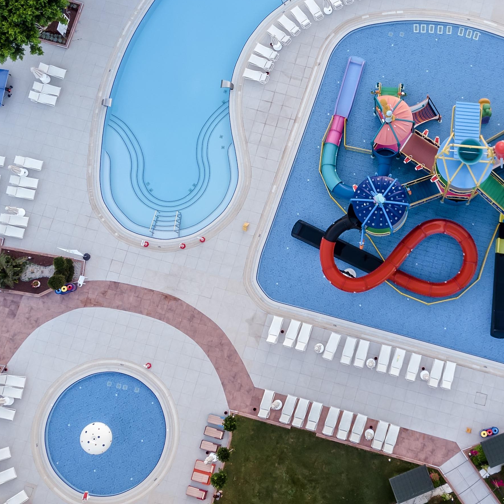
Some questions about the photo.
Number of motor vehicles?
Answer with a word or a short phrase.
0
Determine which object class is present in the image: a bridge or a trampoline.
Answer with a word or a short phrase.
bridge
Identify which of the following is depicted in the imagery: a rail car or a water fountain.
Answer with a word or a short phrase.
water fountain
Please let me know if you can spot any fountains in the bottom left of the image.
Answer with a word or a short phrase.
Yes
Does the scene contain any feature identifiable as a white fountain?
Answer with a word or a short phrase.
Yes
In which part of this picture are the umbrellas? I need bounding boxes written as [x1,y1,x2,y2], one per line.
[314,343,324,353]
[271,36,282,52]
[31,68,52,84]
[4,206,26,216]
[420,370,430,380]
[271,399,282,410]
[365,358,375,368]
[0,396,15,407]
[323,0,333,17]
[364,429,374,439]
[8,165,29,177]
